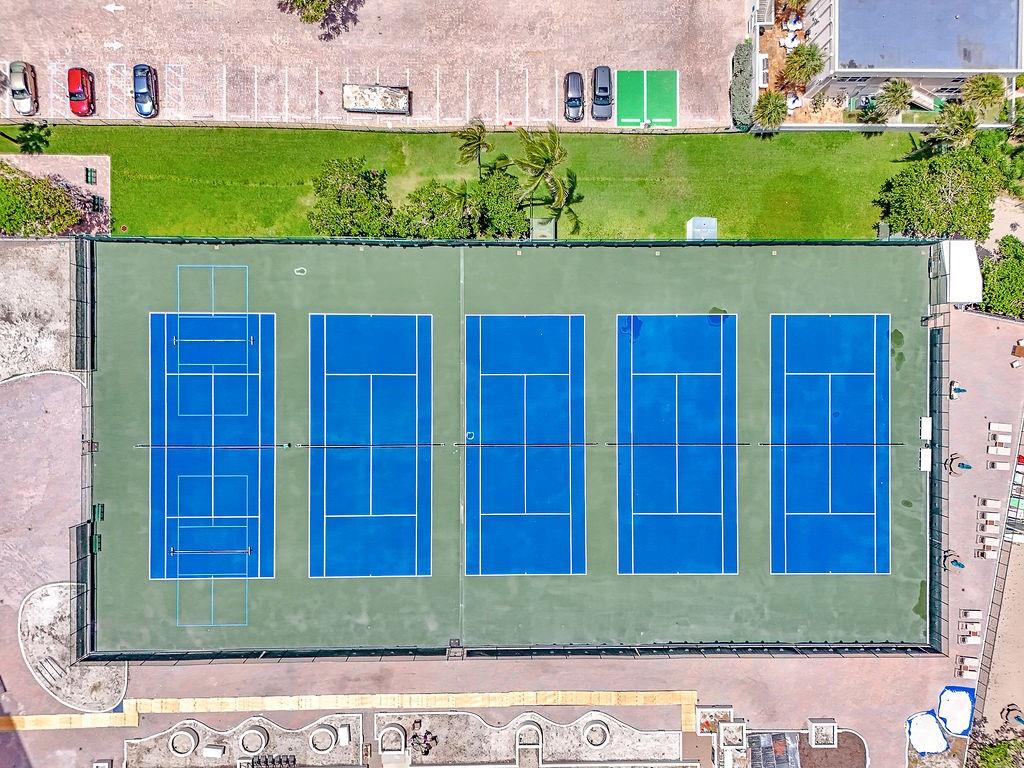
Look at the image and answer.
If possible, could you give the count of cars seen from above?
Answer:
5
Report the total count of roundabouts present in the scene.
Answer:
0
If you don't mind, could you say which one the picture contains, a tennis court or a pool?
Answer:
tennis court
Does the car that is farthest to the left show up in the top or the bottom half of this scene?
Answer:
top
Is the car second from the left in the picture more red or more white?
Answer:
red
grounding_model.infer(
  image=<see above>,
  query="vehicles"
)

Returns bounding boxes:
[563,70,586,123]
[591,65,615,121]
[7,59,37,115]
[66,65,95,116]
[131,63,159,117]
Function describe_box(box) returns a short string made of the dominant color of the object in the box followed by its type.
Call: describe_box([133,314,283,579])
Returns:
blue tennis court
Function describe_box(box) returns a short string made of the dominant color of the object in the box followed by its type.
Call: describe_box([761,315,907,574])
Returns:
blue tennis court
